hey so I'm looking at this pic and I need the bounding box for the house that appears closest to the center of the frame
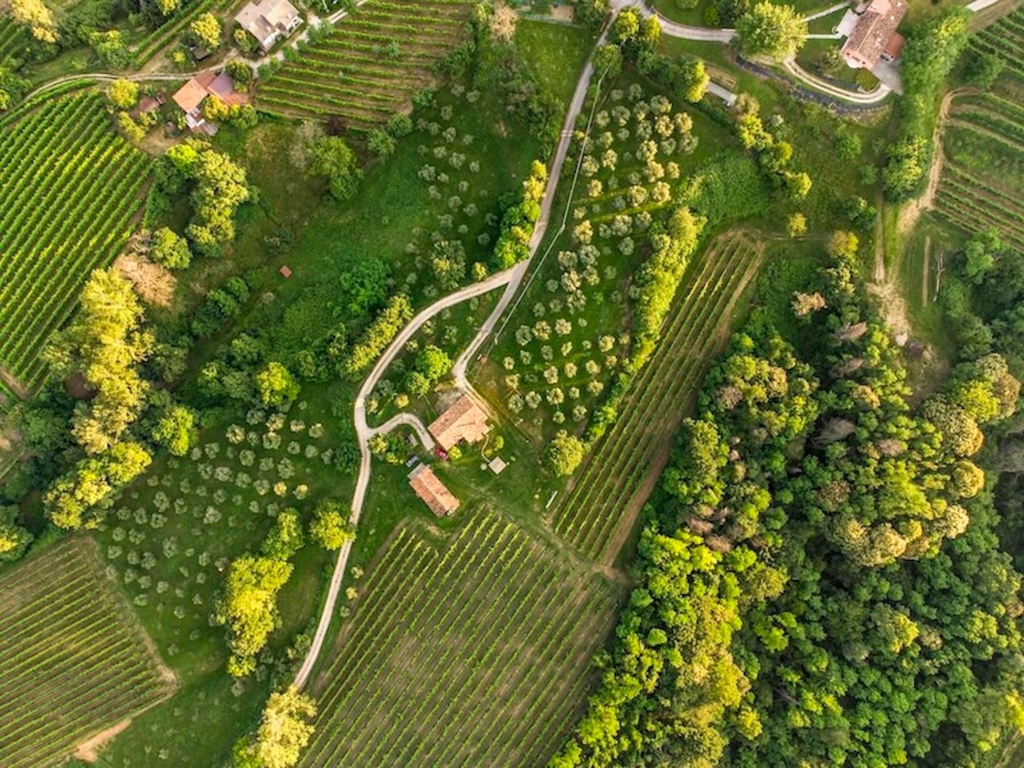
[427,393,493,451]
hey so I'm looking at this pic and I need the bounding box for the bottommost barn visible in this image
[407,461,462,517]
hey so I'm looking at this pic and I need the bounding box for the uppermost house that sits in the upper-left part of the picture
[234,0,305,52]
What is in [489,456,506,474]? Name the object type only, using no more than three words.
gazebo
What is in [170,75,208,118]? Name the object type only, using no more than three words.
building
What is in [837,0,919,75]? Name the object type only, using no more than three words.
house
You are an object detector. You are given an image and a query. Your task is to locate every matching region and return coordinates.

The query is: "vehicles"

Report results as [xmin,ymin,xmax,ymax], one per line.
[435,447,449,459]
[405,456,419,467]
